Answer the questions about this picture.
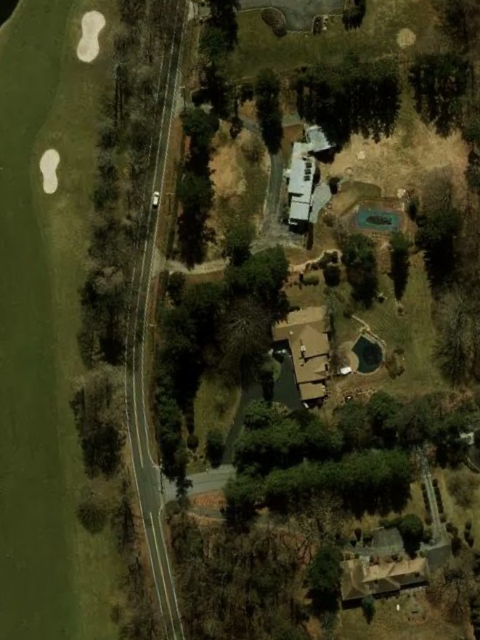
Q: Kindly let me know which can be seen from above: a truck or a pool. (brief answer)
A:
pool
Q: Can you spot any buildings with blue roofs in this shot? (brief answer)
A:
No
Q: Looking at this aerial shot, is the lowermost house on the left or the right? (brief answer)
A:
right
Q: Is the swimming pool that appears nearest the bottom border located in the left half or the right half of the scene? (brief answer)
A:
right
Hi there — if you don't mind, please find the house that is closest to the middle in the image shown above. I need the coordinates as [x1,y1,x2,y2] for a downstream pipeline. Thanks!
[275,307,331,400]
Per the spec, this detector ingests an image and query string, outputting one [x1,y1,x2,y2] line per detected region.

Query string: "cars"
[273,348,286,355]
[301,400,311,412]
[153,192,159,205]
